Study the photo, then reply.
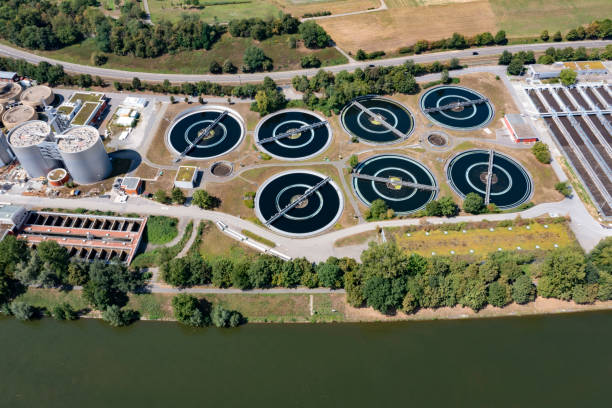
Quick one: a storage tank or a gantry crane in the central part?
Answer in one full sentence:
Visible in the central part is a storage tank.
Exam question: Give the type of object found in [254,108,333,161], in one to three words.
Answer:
storage tank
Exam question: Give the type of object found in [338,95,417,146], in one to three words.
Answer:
storage tank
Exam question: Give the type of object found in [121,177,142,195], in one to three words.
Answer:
building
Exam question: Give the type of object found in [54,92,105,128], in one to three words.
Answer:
building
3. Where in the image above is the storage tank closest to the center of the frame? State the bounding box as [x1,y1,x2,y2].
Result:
[255,170,344,236]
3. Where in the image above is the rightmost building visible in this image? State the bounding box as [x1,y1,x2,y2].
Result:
[564,62,606,76]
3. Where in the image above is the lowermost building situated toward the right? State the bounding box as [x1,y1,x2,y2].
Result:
[504,113,536,143]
